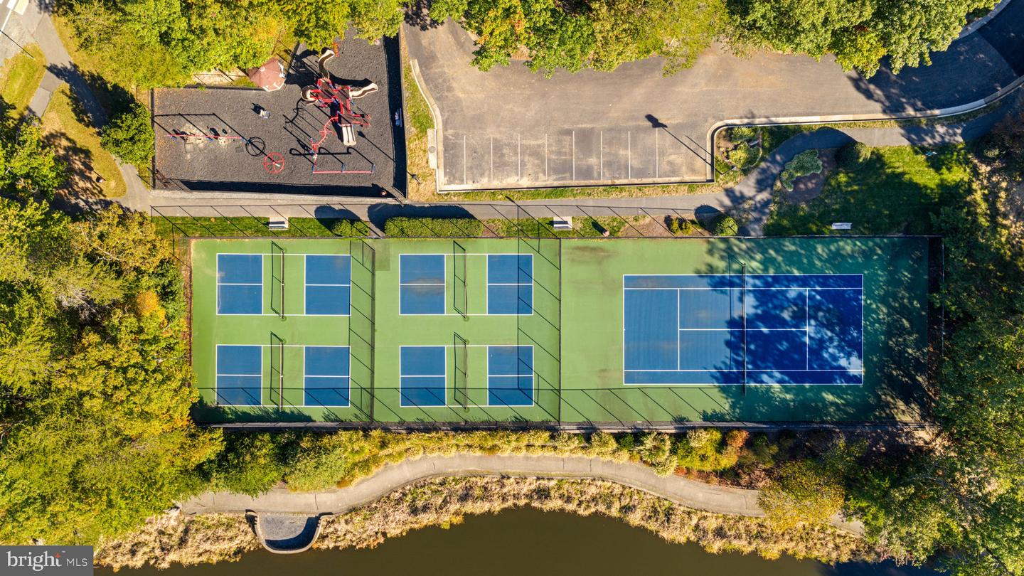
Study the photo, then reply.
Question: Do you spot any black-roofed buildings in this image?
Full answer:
No, the picture doesn't show any black-roofed building.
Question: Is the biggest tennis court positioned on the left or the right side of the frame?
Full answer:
The biggest tennis court is on the right side of the image.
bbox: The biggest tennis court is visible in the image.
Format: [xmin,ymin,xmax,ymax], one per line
[560,238,928,425]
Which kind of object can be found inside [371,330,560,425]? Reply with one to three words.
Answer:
sports court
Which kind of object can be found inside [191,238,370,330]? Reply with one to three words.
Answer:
sports court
